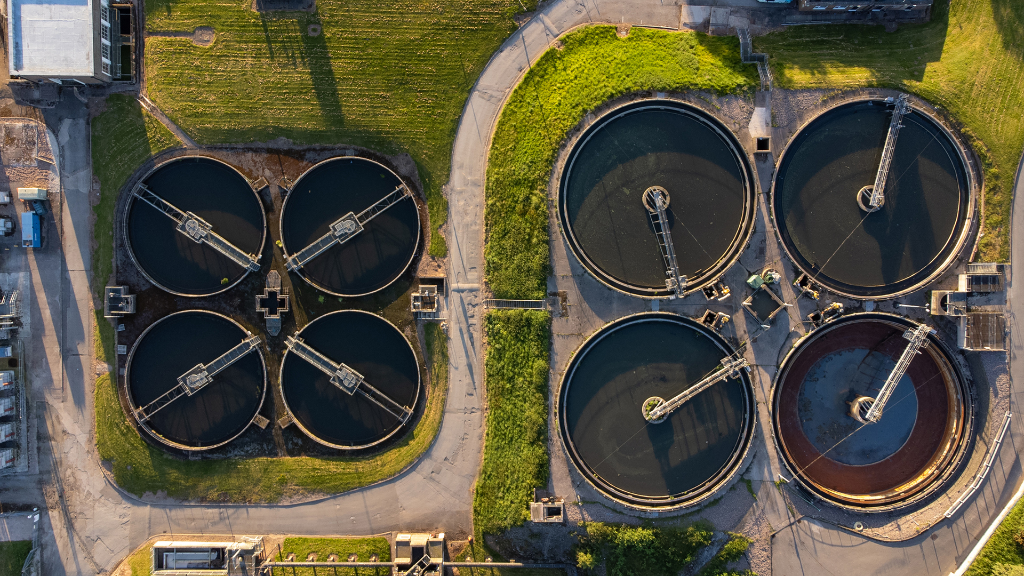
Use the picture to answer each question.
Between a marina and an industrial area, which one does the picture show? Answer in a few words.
industrial area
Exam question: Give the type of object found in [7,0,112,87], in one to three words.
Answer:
building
